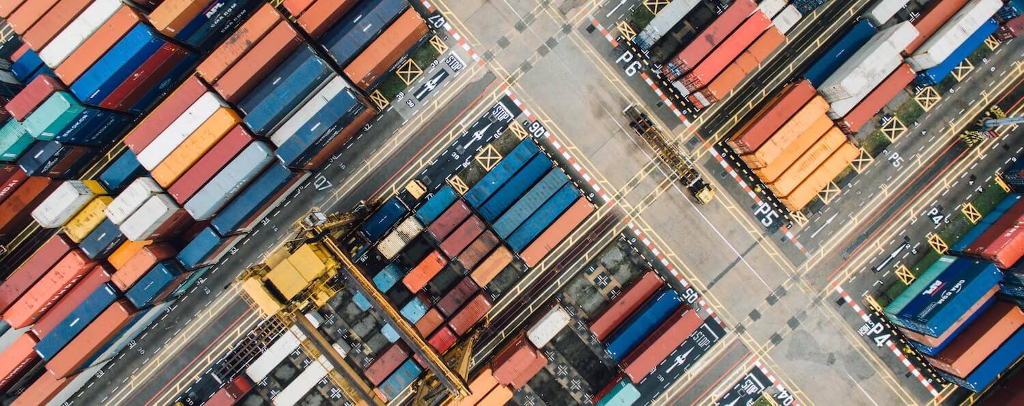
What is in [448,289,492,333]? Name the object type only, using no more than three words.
shipping container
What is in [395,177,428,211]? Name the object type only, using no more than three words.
truck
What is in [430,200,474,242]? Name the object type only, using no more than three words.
shipping container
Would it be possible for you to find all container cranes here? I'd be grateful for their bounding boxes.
[236,195,492,406]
